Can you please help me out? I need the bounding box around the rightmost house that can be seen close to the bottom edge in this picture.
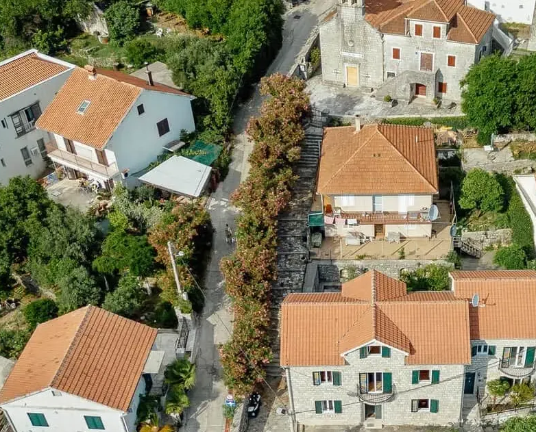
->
[281,259,536,432]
